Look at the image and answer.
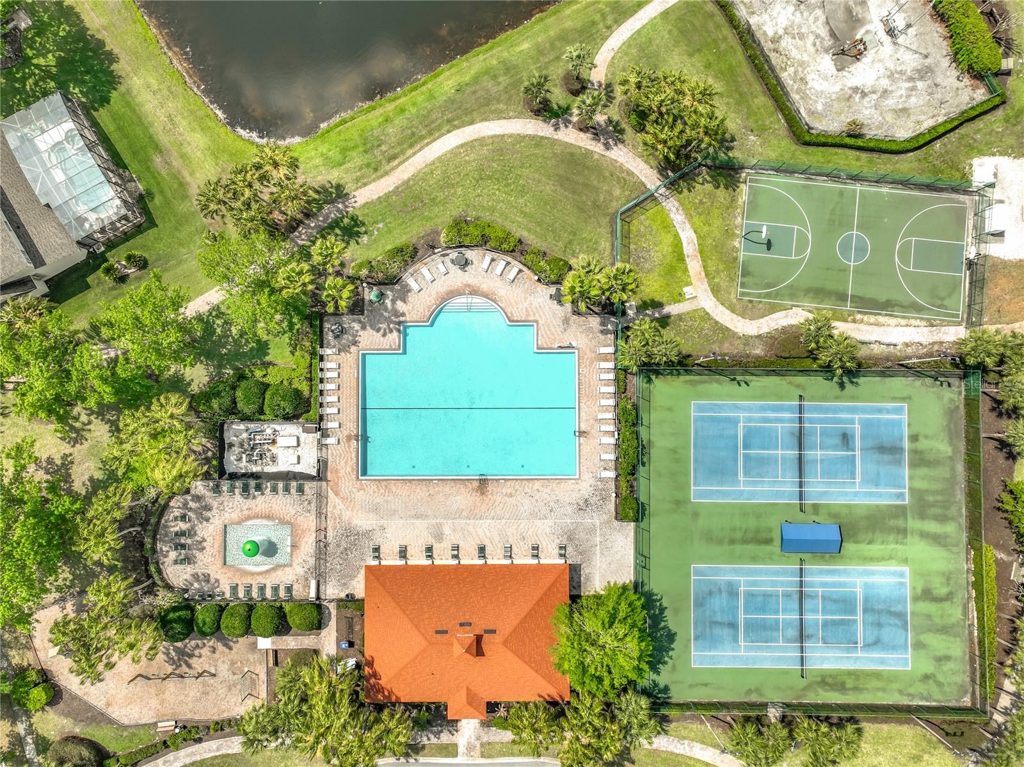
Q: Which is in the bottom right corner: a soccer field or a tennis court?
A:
tennis court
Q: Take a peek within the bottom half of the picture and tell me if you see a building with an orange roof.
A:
Yes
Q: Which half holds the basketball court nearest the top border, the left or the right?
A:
right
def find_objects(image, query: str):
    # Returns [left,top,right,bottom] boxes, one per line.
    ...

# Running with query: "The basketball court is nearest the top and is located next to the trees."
[733,173,974,328]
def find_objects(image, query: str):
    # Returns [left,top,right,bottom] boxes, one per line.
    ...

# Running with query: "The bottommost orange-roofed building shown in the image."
[364,559,570,719]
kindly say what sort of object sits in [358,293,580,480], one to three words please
swimming pool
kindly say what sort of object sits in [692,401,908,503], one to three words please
tennis court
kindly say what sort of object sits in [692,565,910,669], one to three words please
tennis court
